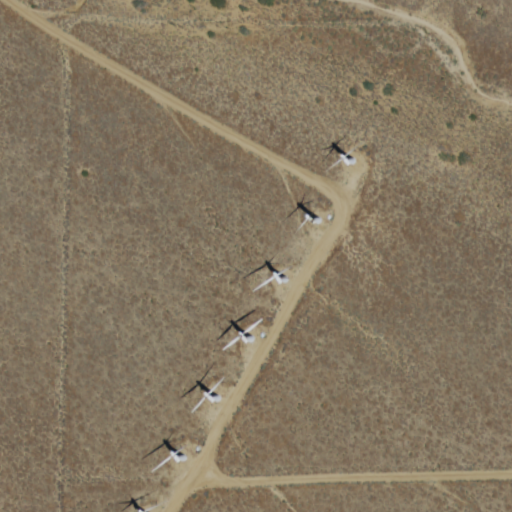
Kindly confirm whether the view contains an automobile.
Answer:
No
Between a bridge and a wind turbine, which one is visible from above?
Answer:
wind turbine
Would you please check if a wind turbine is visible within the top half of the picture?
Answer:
Yes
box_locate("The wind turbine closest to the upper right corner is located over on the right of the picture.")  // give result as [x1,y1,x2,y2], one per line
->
[330,140,362,167]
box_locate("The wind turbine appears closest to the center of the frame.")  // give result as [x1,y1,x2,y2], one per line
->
[253,268,290,289]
